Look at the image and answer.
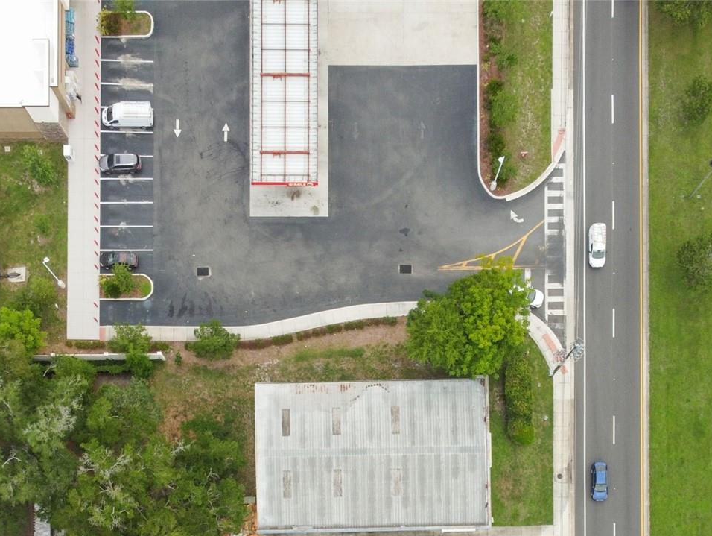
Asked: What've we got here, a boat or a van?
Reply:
van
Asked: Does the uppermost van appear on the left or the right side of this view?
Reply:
left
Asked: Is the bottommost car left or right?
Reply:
right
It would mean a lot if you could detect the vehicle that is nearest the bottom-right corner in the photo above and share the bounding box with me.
[589,461,608,502]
